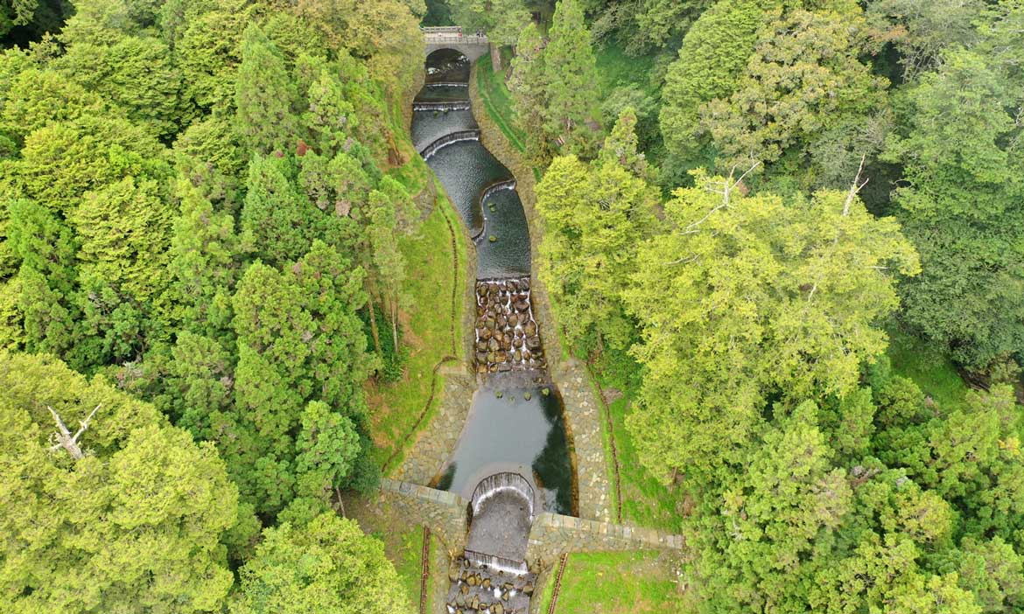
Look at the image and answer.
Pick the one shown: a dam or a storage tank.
dam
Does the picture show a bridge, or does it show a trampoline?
bridge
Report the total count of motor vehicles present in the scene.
0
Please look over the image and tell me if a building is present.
No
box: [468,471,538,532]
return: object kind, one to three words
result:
dam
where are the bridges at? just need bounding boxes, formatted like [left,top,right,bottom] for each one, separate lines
[365,29,492,78]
